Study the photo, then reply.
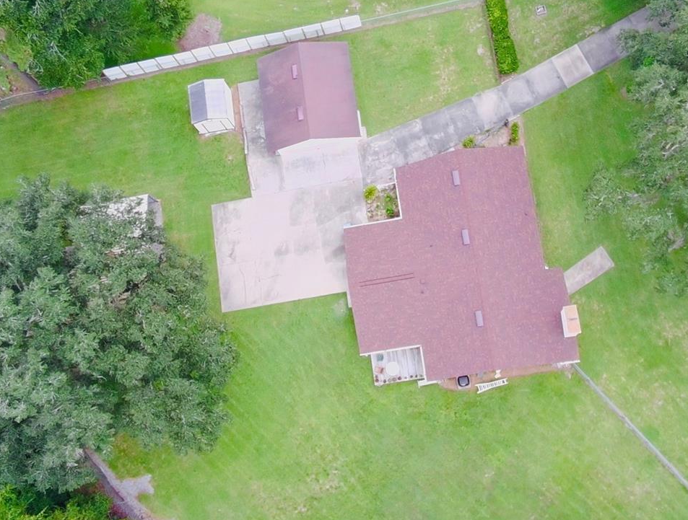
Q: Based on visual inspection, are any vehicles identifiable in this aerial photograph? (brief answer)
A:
No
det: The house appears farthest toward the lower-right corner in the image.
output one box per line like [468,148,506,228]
[344,148,581,384]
